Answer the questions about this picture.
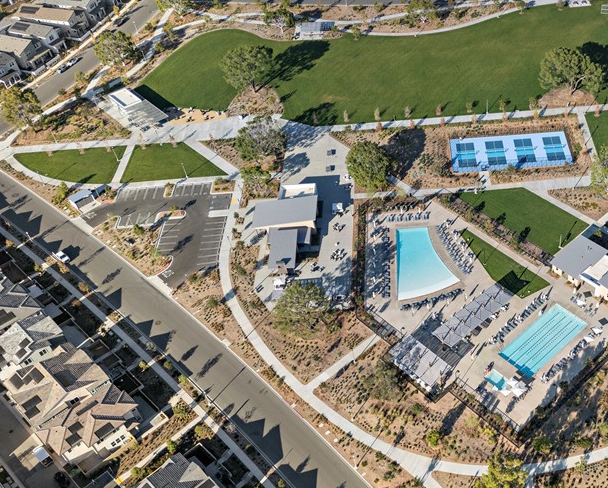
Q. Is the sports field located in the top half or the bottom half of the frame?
top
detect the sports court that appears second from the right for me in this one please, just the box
[513,138,536,162]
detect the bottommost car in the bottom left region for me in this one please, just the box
[51,468,70,487]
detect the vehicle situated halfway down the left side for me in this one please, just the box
[53,248,69,261]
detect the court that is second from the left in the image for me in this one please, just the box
[484,140,507,165]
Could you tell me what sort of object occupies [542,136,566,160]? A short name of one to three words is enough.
sports court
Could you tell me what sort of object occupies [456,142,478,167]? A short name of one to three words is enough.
sports court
